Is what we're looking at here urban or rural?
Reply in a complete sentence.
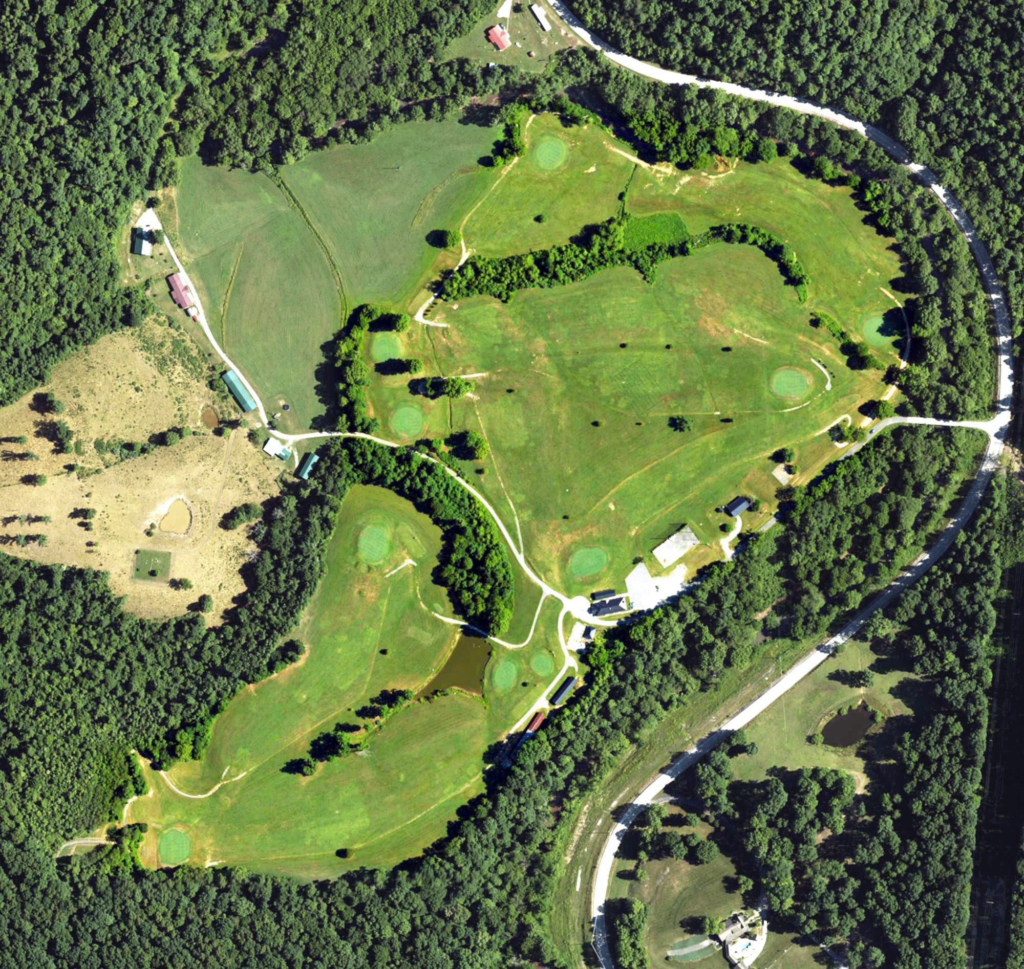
This place is rural.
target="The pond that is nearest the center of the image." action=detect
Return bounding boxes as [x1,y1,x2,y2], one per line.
[419,630,492,697]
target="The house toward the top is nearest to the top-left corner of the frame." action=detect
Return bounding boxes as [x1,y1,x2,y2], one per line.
[133,227,150,255]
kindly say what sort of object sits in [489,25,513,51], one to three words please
house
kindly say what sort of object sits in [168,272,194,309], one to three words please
house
